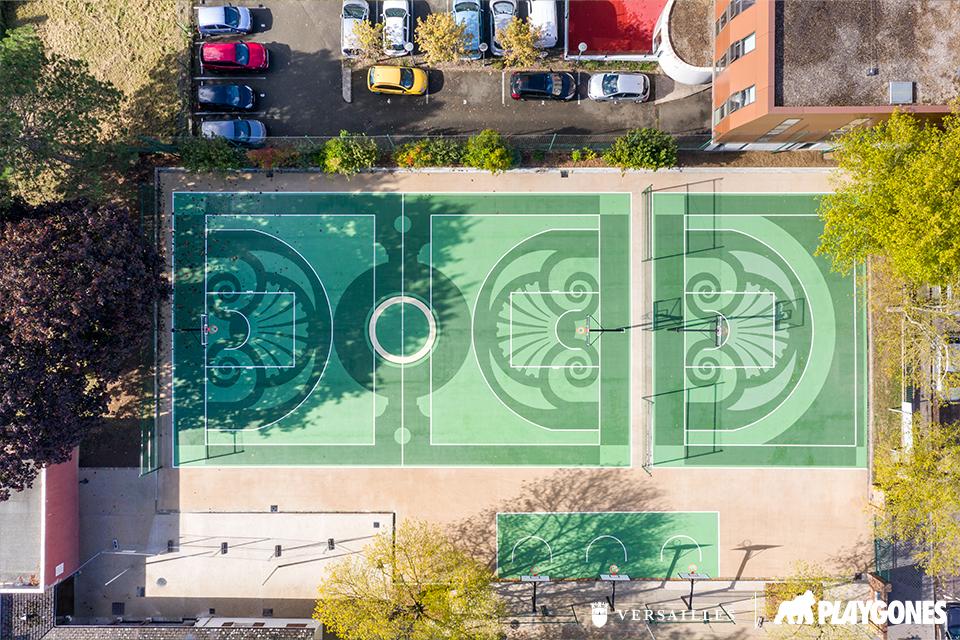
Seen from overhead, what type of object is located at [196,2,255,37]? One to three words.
car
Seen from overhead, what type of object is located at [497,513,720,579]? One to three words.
basketball court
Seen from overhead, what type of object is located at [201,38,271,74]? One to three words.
car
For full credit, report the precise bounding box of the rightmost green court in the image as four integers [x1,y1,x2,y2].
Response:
[652,192,867,468]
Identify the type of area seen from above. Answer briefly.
sports ground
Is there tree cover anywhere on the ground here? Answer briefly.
Yes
